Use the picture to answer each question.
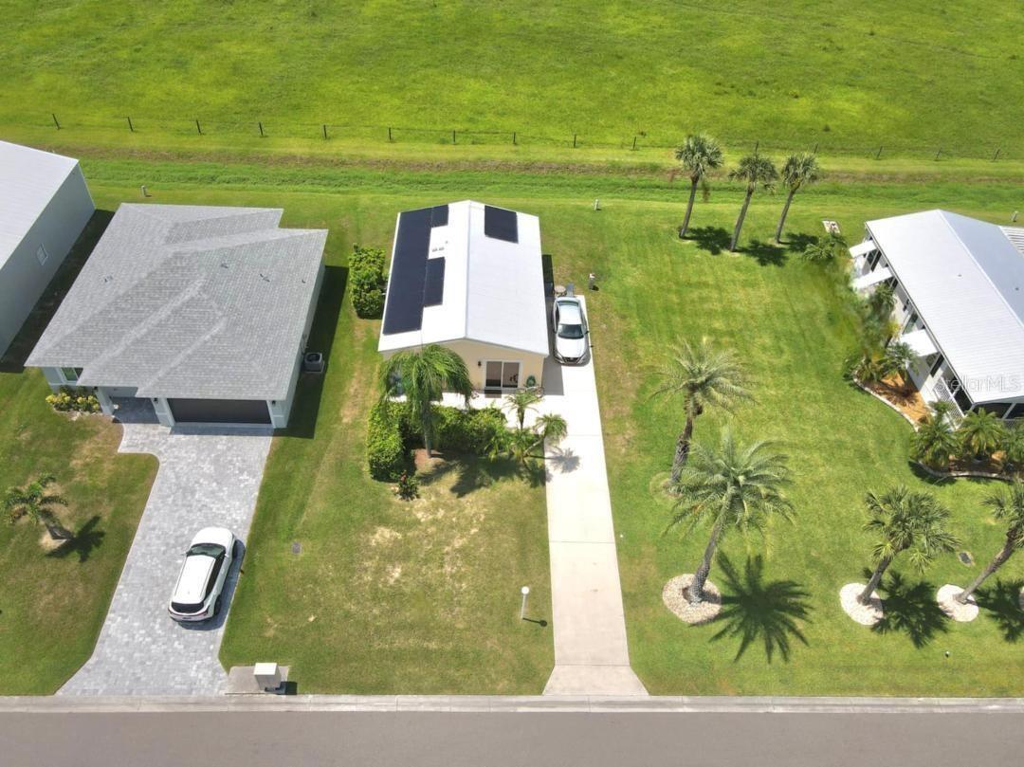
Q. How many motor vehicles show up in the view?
2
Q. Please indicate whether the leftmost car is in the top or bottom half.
bottom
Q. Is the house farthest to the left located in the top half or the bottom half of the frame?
top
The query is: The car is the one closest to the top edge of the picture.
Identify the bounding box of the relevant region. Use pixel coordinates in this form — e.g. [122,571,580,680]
[550,298,590,359]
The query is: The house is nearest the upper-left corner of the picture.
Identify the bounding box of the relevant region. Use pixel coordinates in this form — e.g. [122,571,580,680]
[0,142,94,358]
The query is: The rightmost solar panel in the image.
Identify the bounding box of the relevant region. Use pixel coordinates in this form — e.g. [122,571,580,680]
[484,204,519,243]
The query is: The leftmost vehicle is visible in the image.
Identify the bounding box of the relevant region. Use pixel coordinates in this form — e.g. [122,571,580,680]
[167,531,238,628]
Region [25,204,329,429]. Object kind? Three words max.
house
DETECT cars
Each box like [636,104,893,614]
[550,298,590,359]
[167,531,238,628]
